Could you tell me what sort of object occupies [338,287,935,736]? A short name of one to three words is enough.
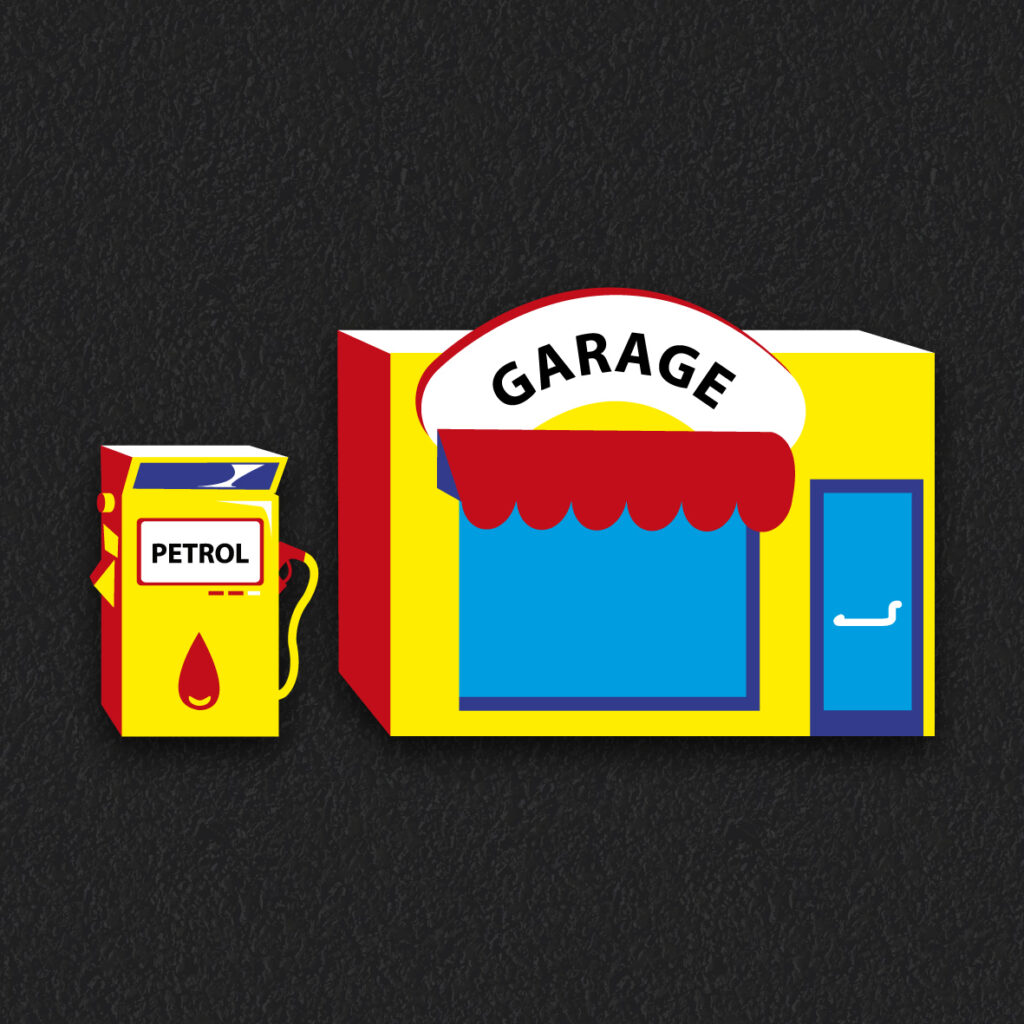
building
